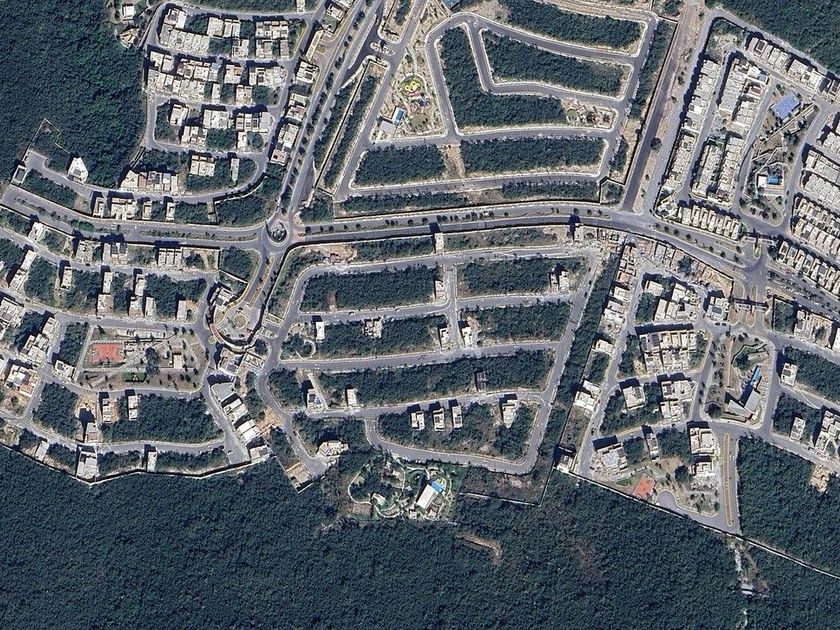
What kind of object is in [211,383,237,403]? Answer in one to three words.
house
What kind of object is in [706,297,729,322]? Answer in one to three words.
house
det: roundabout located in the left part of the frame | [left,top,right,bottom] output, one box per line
[259,215,296,253]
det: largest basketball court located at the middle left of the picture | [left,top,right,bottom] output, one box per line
[85,341,126,367]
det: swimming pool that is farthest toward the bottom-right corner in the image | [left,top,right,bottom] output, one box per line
[748,364,766,390]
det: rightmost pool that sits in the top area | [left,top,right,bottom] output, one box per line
[758,175,783,191]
